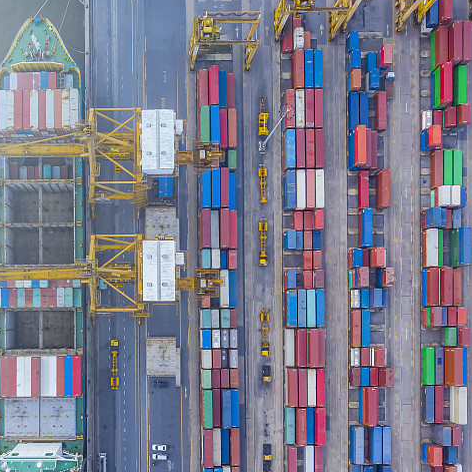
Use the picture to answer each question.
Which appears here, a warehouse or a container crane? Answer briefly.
container crane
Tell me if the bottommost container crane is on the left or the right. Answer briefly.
left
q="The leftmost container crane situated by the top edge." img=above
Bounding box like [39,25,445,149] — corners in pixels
[188,11,261,71]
